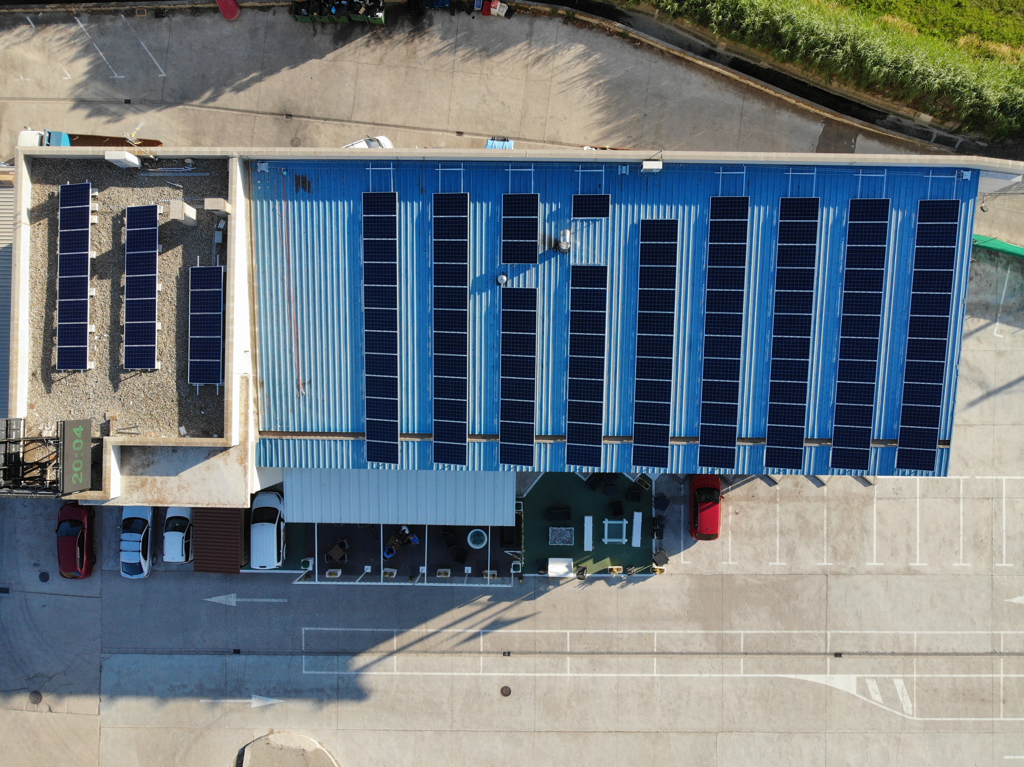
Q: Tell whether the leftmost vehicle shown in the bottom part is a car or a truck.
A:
car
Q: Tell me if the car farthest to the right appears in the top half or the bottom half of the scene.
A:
bottom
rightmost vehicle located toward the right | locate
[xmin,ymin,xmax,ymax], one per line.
[688,474,729,541]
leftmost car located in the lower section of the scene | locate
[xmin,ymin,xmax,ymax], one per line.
[52,499,102,582]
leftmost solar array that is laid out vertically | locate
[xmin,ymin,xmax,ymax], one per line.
[56,181,97,373]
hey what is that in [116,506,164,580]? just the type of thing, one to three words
car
